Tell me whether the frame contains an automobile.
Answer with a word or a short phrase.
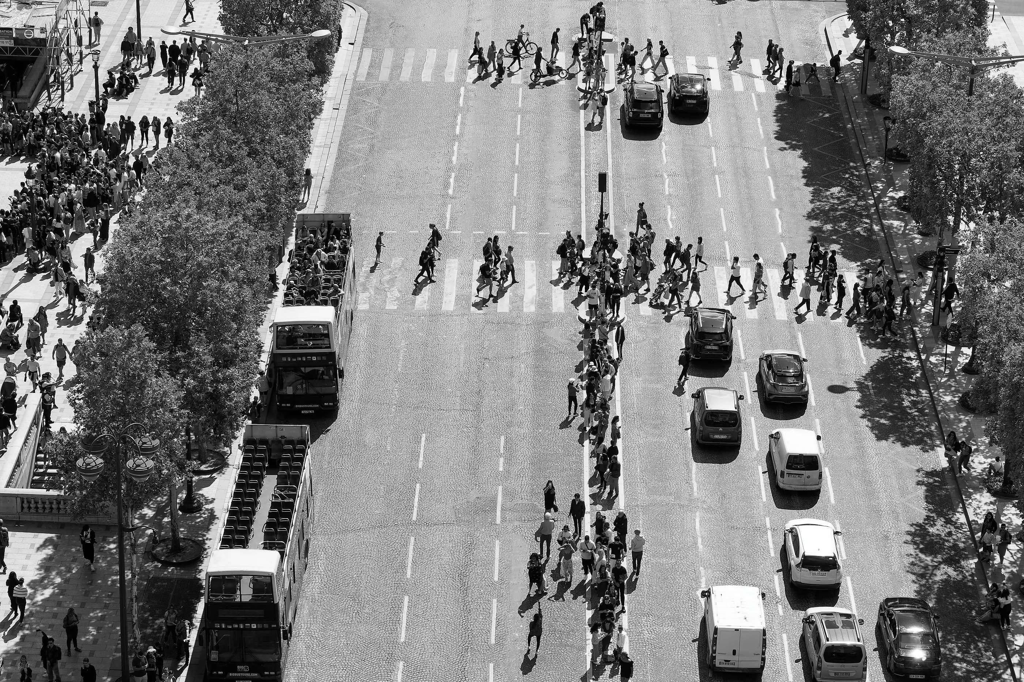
Yes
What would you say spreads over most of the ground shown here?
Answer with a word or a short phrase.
paved ground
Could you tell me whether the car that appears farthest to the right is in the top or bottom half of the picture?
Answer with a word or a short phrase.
bottom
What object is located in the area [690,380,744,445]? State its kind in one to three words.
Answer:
car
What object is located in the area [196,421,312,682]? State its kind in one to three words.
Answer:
bus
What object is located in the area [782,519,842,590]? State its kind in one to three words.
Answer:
car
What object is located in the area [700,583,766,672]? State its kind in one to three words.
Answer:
van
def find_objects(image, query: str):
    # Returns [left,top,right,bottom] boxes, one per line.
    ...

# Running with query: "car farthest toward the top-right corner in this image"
[667,72,709,113]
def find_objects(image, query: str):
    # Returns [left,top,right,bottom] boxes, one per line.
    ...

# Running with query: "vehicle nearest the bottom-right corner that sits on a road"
[875,602,941,681]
